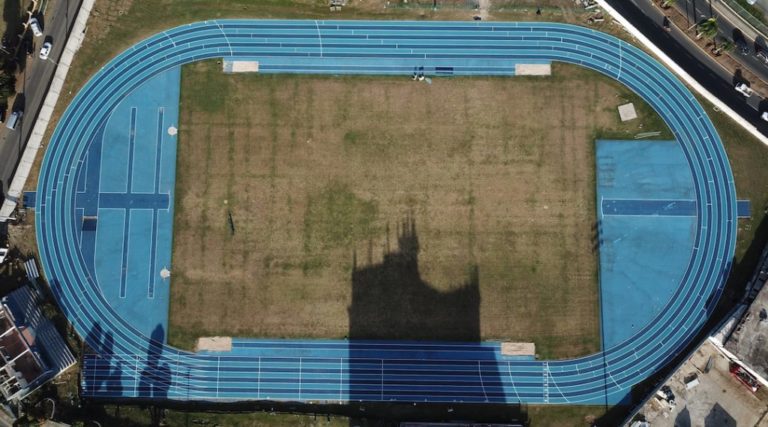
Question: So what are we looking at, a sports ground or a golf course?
sports ground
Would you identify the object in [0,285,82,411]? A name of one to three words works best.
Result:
building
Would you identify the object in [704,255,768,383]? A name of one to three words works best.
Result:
building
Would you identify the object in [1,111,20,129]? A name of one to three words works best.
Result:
vehicle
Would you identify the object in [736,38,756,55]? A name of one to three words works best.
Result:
car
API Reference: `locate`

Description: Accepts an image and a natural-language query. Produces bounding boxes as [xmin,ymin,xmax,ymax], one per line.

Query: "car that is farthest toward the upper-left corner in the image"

[30,17,42,37]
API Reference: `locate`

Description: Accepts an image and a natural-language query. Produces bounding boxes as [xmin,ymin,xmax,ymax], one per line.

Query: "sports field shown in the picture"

[167,58,678,361]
